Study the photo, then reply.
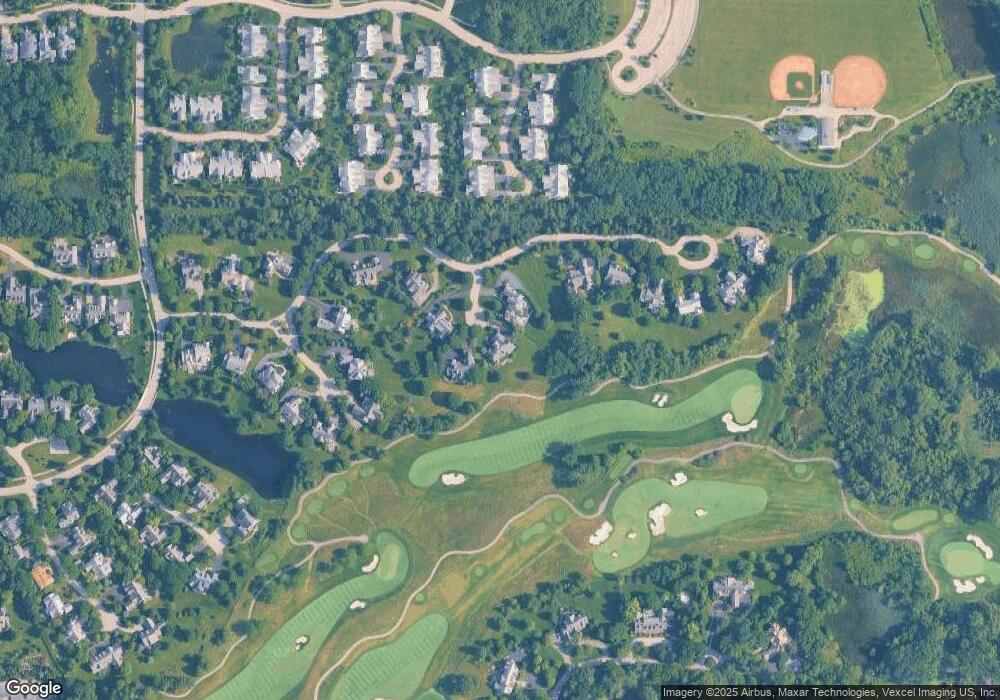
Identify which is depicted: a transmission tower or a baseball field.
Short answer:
baseball field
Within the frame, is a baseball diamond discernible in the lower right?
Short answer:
No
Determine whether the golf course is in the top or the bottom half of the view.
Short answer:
bottom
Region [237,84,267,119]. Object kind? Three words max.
house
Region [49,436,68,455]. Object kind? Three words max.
building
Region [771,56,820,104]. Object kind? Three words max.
baseball field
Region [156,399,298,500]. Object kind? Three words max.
pond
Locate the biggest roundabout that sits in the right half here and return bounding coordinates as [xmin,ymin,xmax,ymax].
[676,235,718,268]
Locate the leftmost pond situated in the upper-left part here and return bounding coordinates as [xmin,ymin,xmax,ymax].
[88,35,122,137]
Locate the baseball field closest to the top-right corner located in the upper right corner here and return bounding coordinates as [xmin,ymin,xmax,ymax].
[833,55,887,107]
